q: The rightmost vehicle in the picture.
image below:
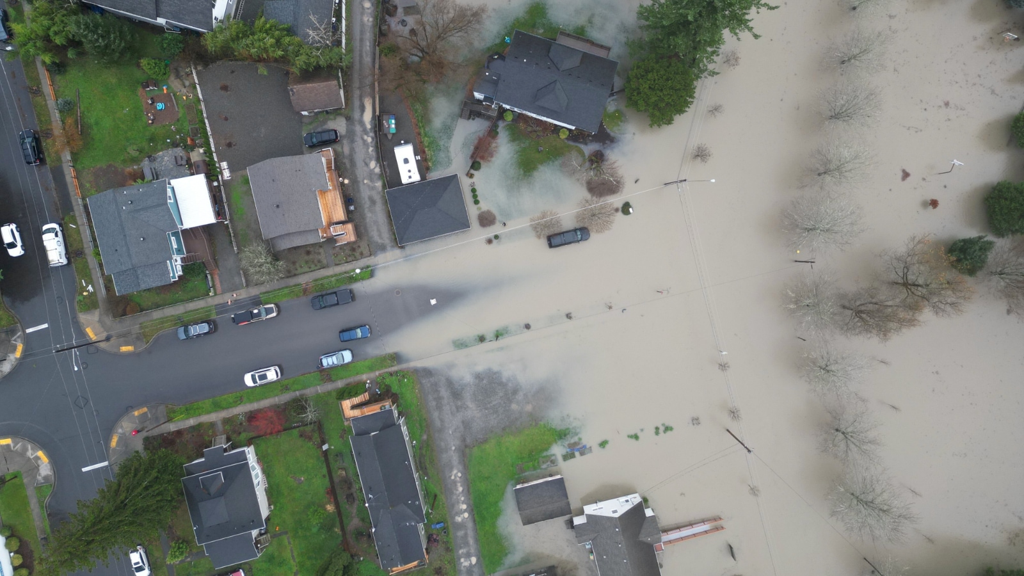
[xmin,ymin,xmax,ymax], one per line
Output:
[546,228,590,250]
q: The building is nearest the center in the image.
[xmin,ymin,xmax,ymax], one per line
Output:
[385,173,471,246]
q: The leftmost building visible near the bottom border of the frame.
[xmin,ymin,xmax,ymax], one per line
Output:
[181,434,272,569]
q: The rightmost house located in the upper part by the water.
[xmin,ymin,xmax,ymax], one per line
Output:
[459,29,619,133]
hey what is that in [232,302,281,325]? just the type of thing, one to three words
truck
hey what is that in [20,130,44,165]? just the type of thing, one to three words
car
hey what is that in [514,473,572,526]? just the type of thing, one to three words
building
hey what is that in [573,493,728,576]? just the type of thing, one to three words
house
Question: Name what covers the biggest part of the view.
water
